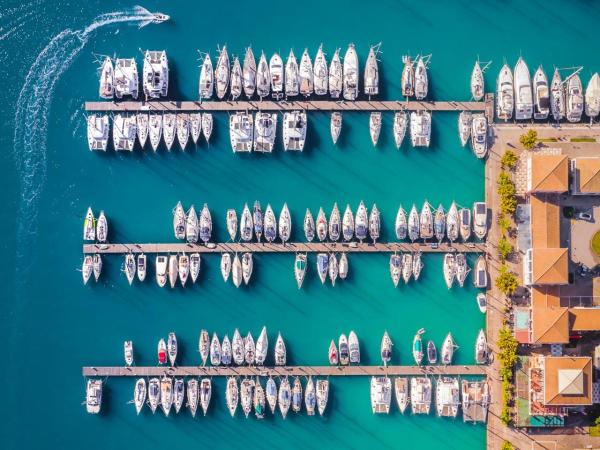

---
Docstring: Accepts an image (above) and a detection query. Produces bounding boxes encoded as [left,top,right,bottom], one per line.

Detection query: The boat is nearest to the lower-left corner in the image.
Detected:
[87,374,104,414]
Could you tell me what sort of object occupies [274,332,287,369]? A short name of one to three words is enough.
boat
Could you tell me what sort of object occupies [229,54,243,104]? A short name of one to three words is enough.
boat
